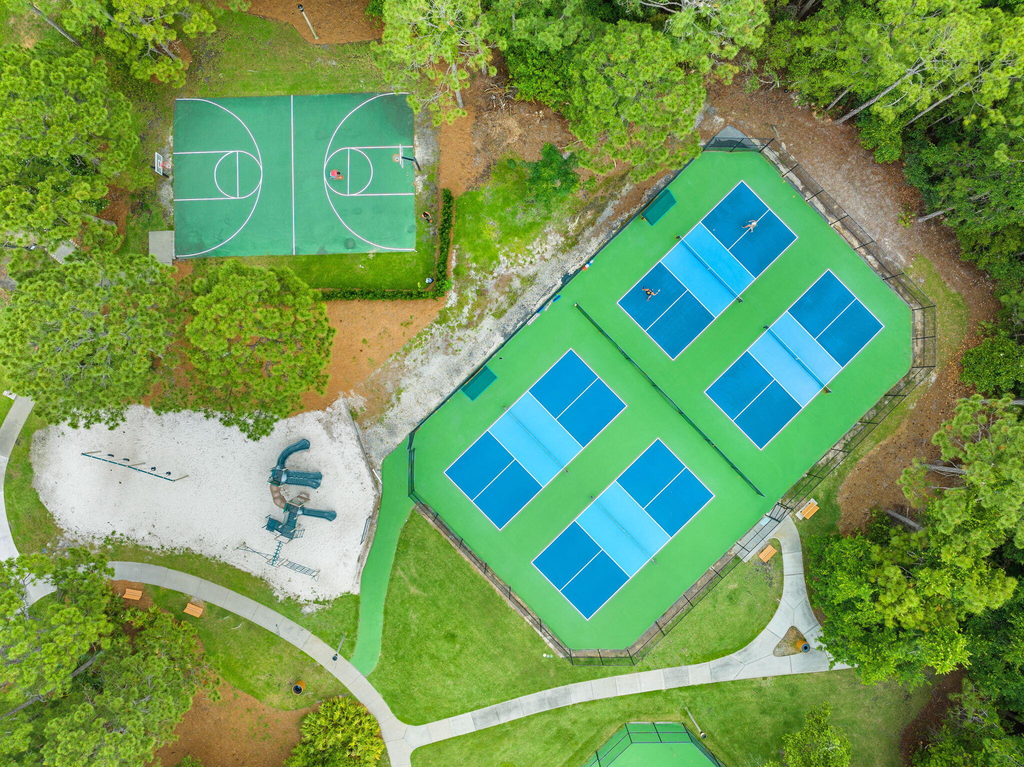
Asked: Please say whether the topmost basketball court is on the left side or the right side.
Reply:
left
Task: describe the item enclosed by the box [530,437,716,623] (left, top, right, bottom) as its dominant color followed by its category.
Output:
blue sports court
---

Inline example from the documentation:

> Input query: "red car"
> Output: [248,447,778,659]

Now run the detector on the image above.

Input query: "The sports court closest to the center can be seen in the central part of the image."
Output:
[442,347,629,532]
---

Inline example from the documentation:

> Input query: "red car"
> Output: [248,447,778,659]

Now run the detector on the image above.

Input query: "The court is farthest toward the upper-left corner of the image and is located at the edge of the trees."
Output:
[173,91,417,260]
